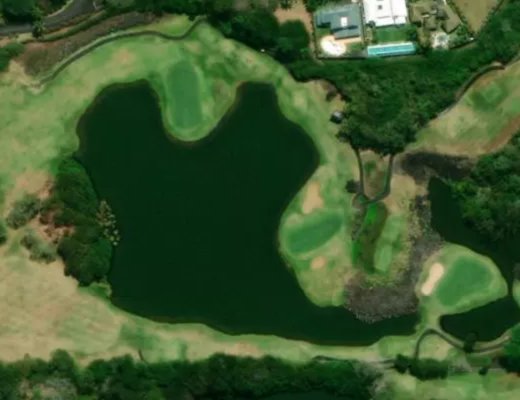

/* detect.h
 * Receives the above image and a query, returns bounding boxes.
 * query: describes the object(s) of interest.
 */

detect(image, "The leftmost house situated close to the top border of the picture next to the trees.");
[315,4,360,39]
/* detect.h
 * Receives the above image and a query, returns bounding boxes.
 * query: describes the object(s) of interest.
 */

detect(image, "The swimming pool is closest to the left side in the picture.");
[367,43,415,57]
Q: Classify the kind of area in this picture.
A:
golf course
